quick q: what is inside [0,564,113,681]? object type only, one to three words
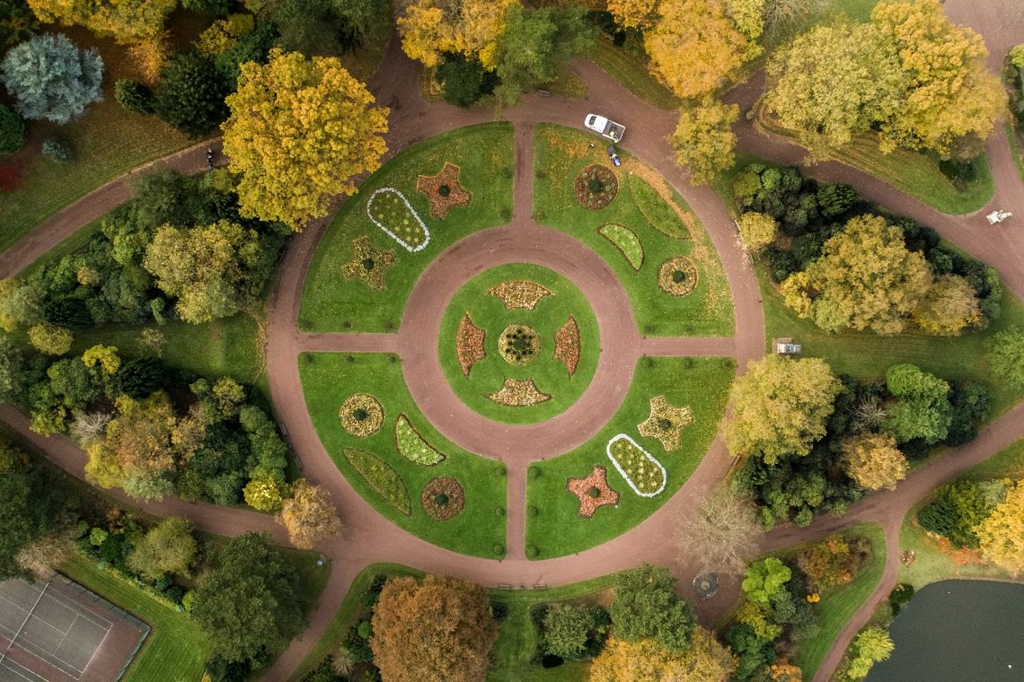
tennis court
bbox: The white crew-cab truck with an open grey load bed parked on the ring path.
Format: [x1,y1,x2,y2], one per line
[583,113,625,139]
